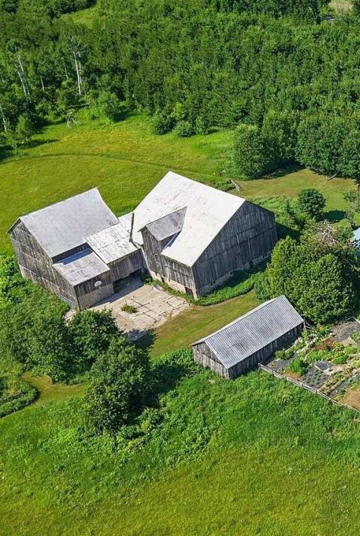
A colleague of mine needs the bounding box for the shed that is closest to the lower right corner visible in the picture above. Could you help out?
[186,294,308,379]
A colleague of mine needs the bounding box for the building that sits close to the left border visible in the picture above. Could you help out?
[5,188,128,309]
